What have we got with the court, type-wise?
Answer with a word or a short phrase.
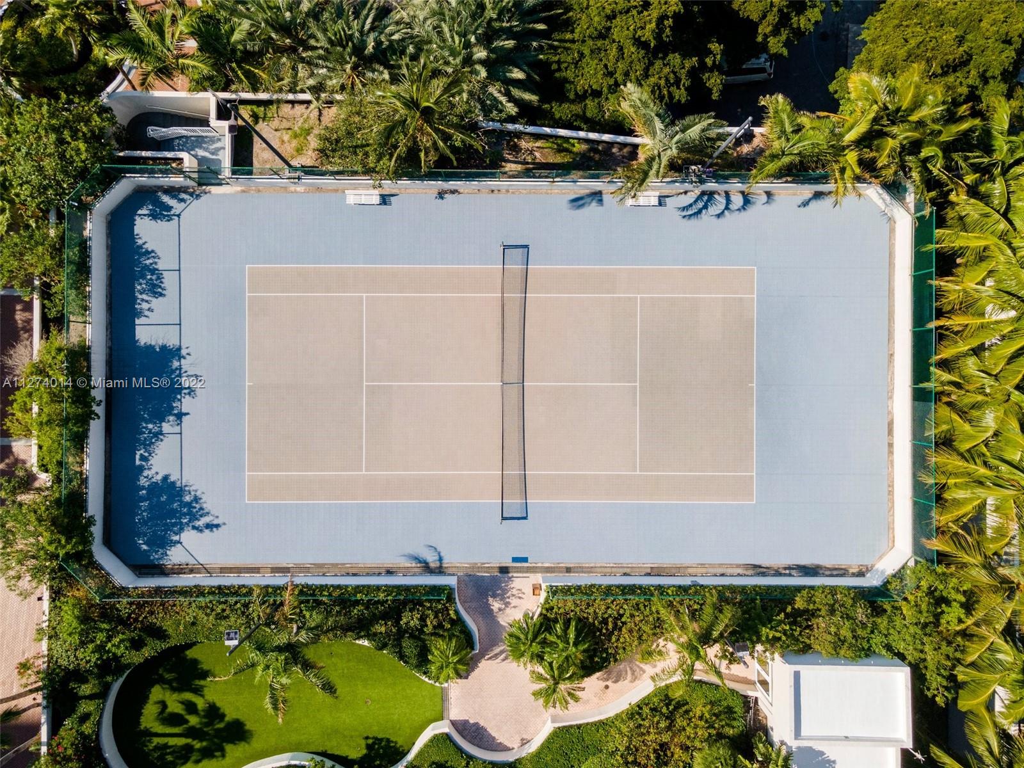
tennis court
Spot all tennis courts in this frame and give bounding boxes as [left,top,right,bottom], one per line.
[109,182,891,575]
